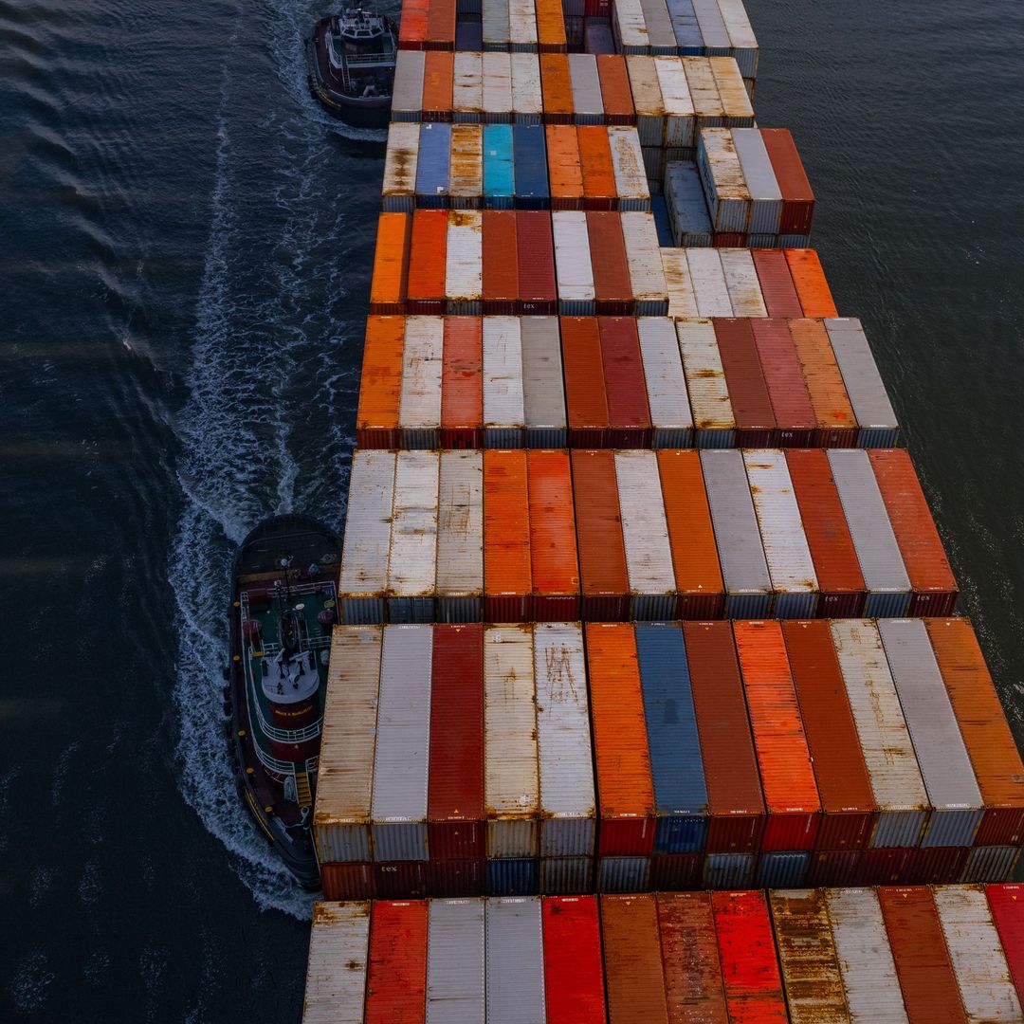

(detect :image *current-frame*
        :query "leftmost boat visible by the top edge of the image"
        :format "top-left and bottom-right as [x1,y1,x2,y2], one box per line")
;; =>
[309,0,400,131]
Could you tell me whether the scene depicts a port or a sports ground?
port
